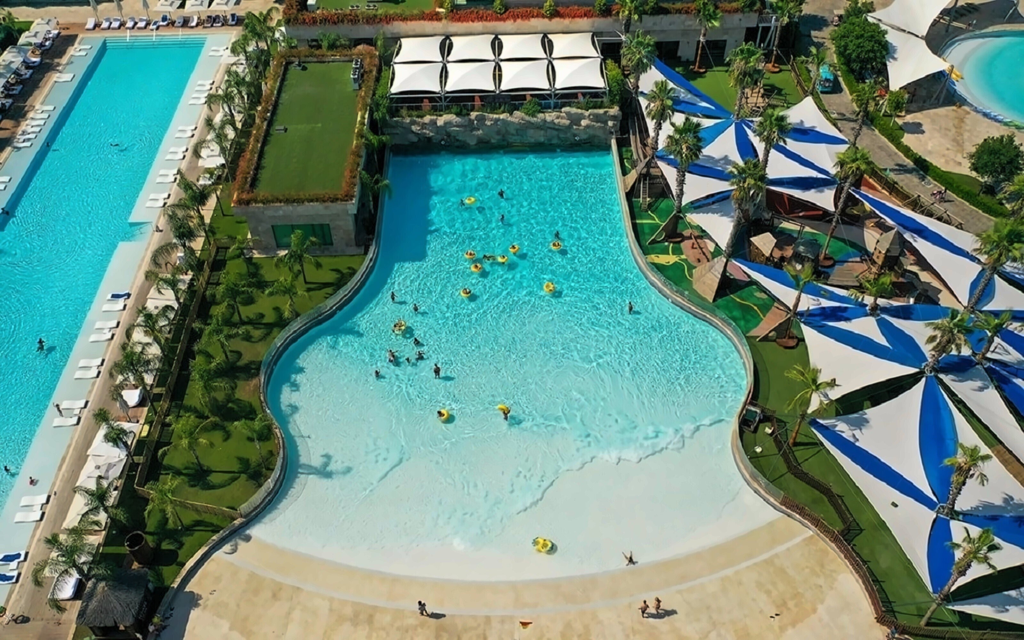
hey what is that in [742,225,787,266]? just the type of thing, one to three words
shed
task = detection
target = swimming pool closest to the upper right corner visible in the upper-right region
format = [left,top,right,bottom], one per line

[939,24,1024,132]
